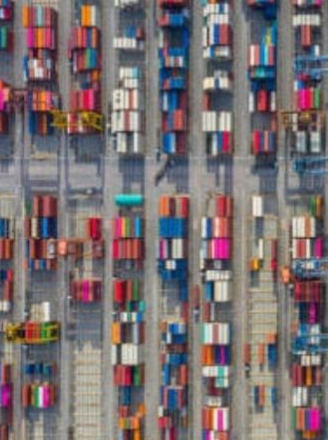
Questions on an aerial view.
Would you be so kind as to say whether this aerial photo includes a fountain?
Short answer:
No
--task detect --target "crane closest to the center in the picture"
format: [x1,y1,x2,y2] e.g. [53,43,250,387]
[51,238,106,262]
